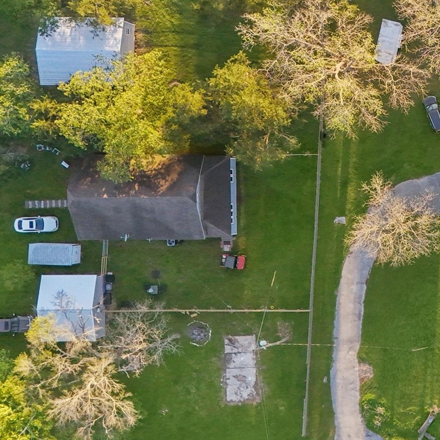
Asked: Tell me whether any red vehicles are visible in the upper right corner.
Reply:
No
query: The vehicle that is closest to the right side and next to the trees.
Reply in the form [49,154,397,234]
[421,94,440,136]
